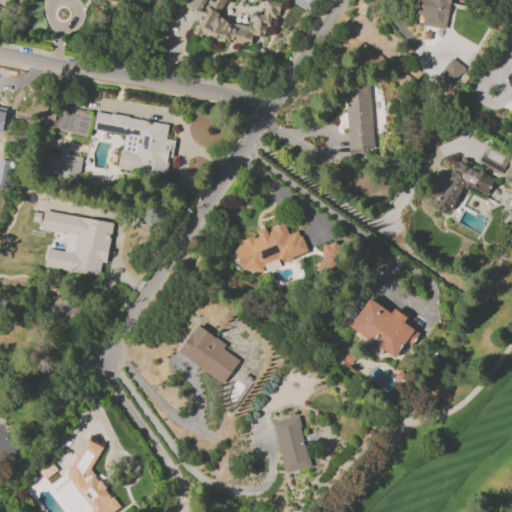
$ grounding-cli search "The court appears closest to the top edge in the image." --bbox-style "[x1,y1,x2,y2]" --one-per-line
[58,110,92,136]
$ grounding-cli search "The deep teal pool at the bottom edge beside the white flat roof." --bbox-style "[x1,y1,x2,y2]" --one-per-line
[39,490,64,512]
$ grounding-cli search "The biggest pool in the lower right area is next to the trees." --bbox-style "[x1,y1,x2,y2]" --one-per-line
[372,368,395,389]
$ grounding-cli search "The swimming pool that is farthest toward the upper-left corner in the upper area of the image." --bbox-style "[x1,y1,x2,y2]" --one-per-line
[94,142,111,168]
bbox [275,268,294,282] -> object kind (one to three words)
swimming pool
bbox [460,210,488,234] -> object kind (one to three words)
swimming pool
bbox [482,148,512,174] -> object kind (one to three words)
building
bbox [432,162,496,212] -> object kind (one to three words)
house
